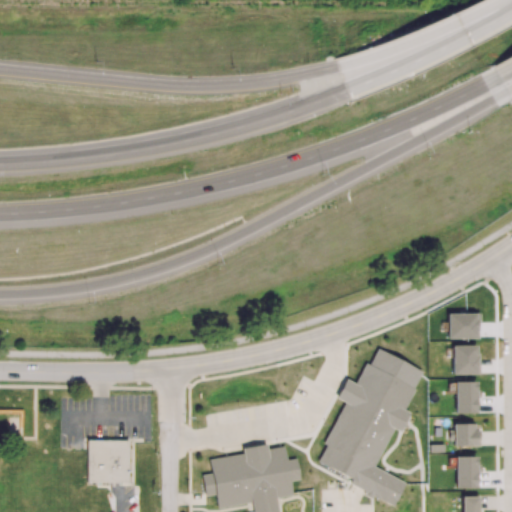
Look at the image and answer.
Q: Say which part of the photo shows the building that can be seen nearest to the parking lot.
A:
bottom left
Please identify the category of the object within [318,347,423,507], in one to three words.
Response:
building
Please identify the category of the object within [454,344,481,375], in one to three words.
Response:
house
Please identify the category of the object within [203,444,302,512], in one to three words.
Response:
building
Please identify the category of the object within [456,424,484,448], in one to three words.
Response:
house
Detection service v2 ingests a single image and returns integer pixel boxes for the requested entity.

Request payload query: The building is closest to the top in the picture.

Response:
[450,313,482,340]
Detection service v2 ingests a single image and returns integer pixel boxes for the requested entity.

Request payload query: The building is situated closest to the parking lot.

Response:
[88,438,131,486]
